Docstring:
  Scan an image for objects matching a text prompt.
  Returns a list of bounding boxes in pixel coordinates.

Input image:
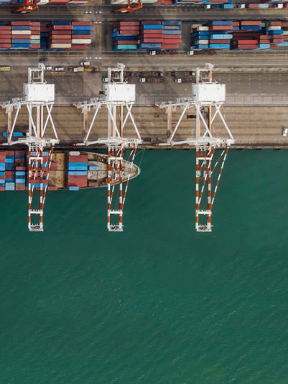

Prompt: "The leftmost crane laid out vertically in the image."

[0,63,59,232]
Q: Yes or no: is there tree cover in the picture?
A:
No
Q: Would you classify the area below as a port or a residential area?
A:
port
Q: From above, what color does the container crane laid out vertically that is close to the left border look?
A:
white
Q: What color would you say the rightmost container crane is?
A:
white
